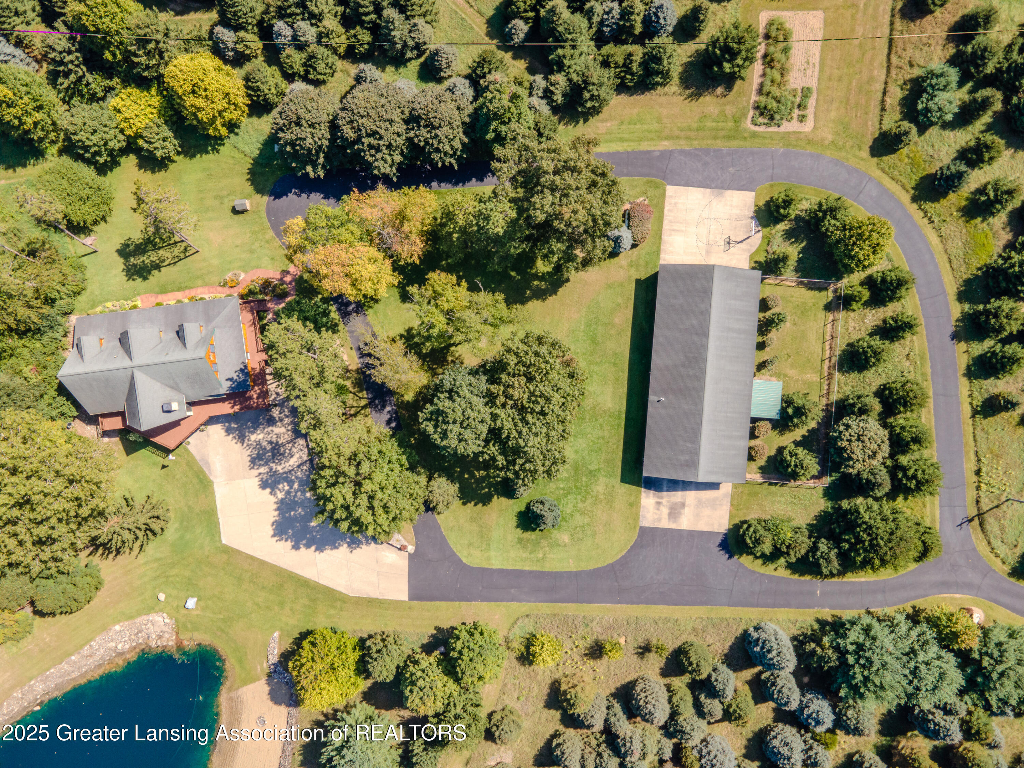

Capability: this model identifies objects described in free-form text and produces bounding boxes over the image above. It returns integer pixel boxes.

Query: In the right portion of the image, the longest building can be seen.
[641,264,762,483]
